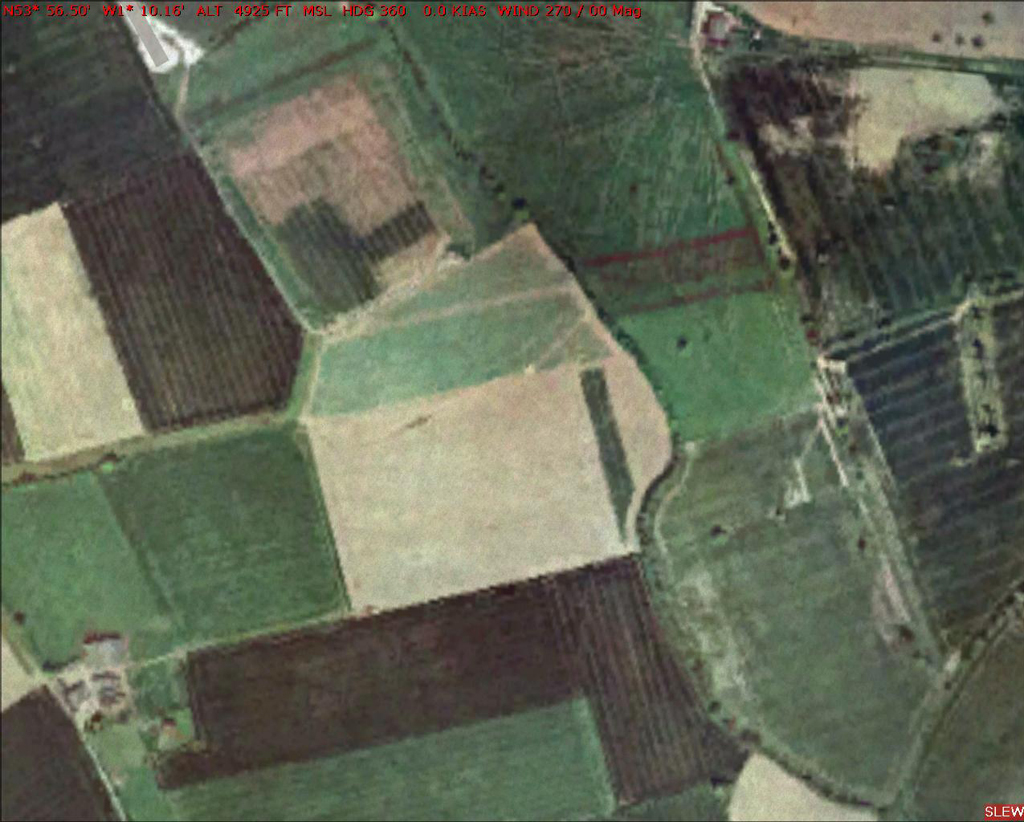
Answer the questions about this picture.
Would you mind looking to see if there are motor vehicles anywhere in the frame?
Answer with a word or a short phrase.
No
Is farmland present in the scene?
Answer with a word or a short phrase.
Yes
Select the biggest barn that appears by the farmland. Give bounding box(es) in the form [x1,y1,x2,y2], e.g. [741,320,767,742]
[88,640,127,664]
